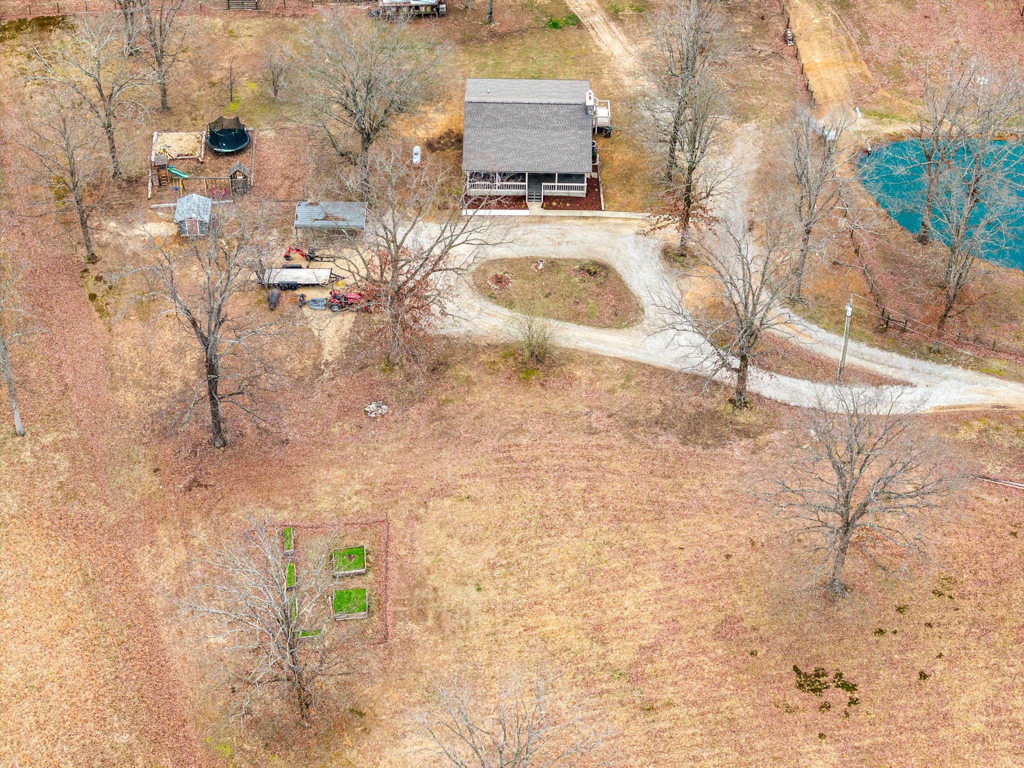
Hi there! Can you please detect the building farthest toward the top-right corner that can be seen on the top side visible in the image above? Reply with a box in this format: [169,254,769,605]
[462,79,608,203]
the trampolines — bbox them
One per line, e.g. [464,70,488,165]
[206,115,249,160]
